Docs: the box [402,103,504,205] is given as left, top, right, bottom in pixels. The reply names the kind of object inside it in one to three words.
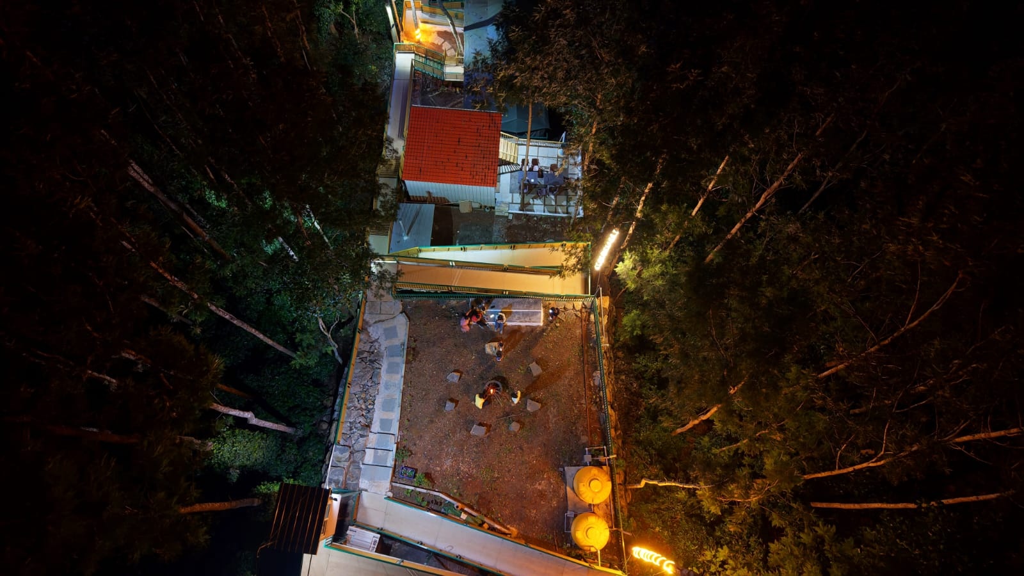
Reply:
building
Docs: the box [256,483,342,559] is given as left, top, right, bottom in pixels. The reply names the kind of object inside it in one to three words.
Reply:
house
